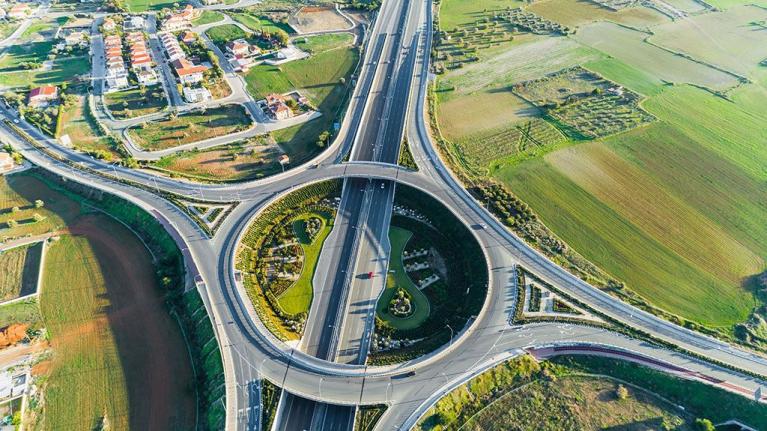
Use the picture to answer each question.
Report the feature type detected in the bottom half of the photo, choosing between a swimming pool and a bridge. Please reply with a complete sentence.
It is a bridge that can be seen in the bottom half of the photo.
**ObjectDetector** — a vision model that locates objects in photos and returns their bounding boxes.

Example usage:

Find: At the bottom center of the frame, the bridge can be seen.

[264,346,369,406]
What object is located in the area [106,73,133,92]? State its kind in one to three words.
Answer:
house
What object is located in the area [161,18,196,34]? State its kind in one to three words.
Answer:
house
